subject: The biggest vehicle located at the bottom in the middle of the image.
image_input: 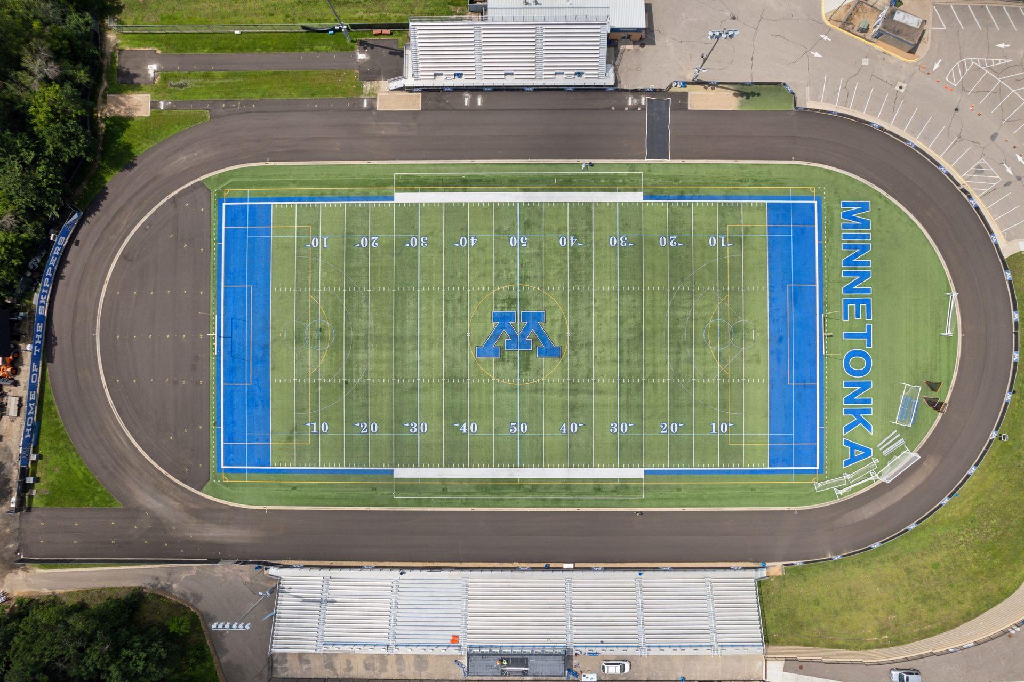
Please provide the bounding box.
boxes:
[601,659,629,675]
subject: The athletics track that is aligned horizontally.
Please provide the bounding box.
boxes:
[19,109,1015,564]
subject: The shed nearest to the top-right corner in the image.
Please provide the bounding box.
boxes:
[872,6,927,48]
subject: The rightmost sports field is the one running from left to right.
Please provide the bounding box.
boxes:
[203,164,958,505]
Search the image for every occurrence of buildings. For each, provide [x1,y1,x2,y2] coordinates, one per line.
[872,6,927,48]
[488,0,646,38]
